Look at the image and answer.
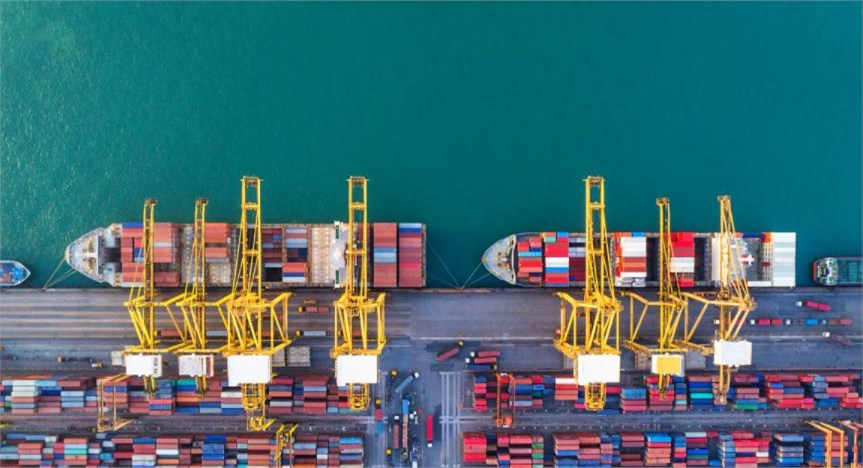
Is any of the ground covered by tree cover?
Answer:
No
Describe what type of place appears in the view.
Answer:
port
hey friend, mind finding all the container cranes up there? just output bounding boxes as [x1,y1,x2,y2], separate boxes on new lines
[490,368,517,431]
[99,372,139,432]
[173,200,237,395]
[121,200,188,393]
[680,196,754,406]
[246,373,279,432]
[276,420,306,468]
[225,179,296,412]
[799,418,845,468]
[332,179,392,413]
[554,179,624,413]
[620,200,689,395]
[823,418,863,468]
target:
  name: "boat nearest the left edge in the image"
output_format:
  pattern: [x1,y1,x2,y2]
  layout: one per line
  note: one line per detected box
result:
[0,261,35,285]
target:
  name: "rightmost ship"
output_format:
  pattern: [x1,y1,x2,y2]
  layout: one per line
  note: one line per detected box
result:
[806,257,863,286]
